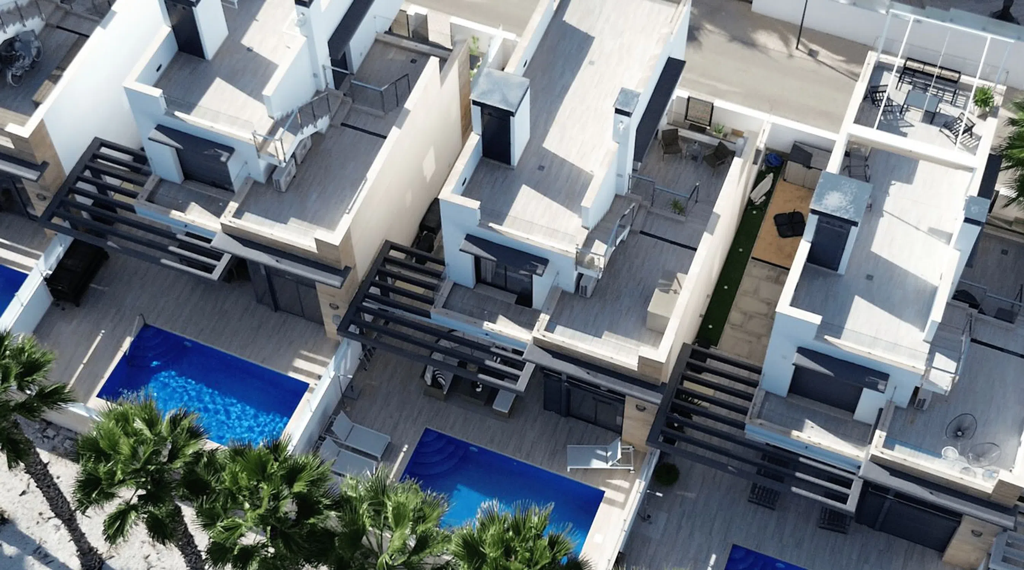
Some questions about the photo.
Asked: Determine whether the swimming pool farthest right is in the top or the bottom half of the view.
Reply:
bottom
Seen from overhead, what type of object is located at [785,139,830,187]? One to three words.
building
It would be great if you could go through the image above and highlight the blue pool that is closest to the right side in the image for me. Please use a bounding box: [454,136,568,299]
[723,542,821,570]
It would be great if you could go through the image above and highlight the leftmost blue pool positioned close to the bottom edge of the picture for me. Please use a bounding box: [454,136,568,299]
[387,426,607,570]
